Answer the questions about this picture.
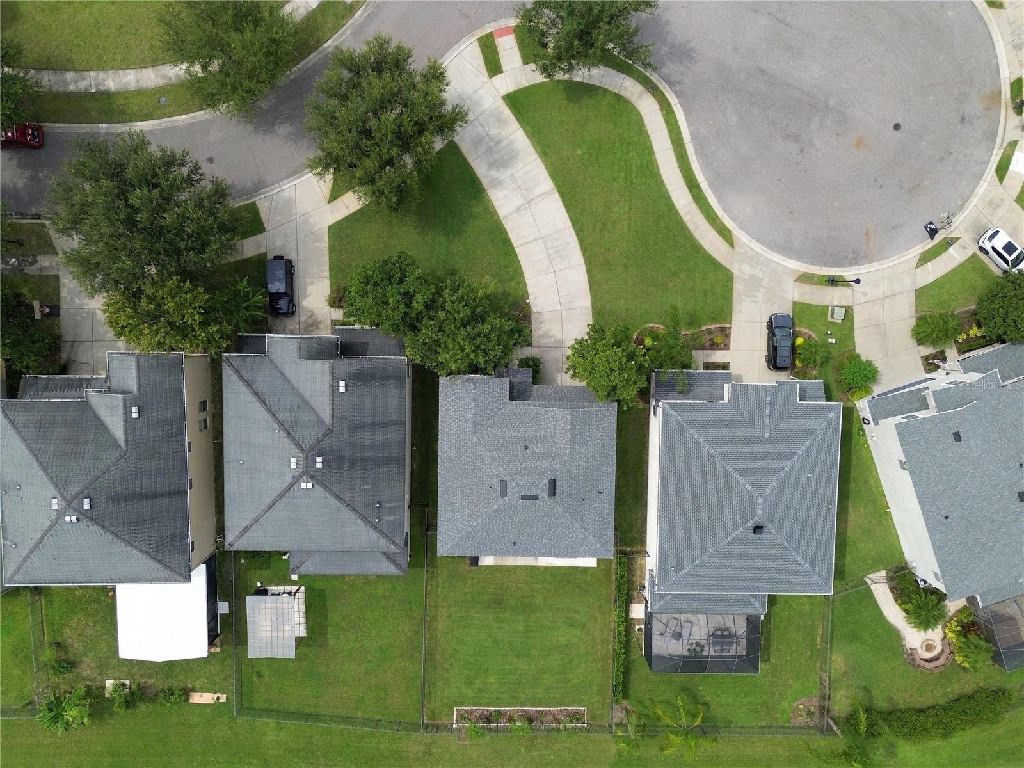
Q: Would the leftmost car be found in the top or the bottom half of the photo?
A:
top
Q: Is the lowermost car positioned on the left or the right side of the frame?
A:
right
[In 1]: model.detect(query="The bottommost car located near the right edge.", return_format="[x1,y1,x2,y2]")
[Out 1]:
[978,225,1024,281]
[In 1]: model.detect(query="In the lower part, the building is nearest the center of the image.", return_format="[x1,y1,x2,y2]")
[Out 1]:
[437,368,615,558]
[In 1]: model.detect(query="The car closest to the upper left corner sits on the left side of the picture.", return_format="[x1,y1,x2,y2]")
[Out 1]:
[0,121,45,154]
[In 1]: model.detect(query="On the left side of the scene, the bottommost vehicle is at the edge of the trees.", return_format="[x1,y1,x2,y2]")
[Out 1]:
[266,254,299,315]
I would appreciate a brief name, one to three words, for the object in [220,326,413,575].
house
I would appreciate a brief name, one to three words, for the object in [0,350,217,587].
house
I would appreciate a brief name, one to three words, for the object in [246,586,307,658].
gazebo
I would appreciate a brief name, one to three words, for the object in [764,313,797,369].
car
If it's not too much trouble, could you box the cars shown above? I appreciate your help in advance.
[764,313,797,369]
[0,121,45,154]
[266,254,299,315]
[978,225,1024,281]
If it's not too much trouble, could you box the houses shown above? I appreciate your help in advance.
[856,341,1024,608]
[646,369,841,615]
[437,368,615,558]
[220,326,413,575]
[0,350,217,587]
